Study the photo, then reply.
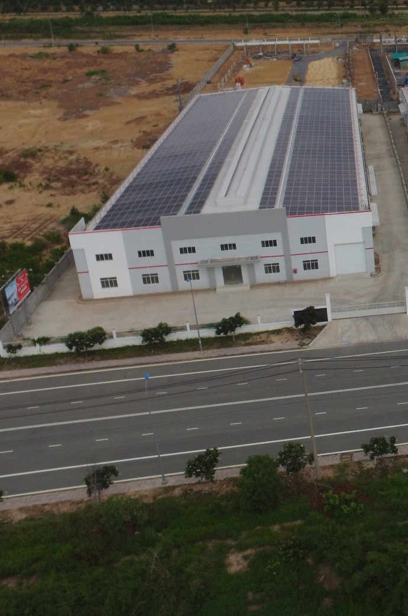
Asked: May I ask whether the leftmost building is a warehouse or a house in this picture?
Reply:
warehouse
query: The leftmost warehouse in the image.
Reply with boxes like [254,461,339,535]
[68,82,387,298]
